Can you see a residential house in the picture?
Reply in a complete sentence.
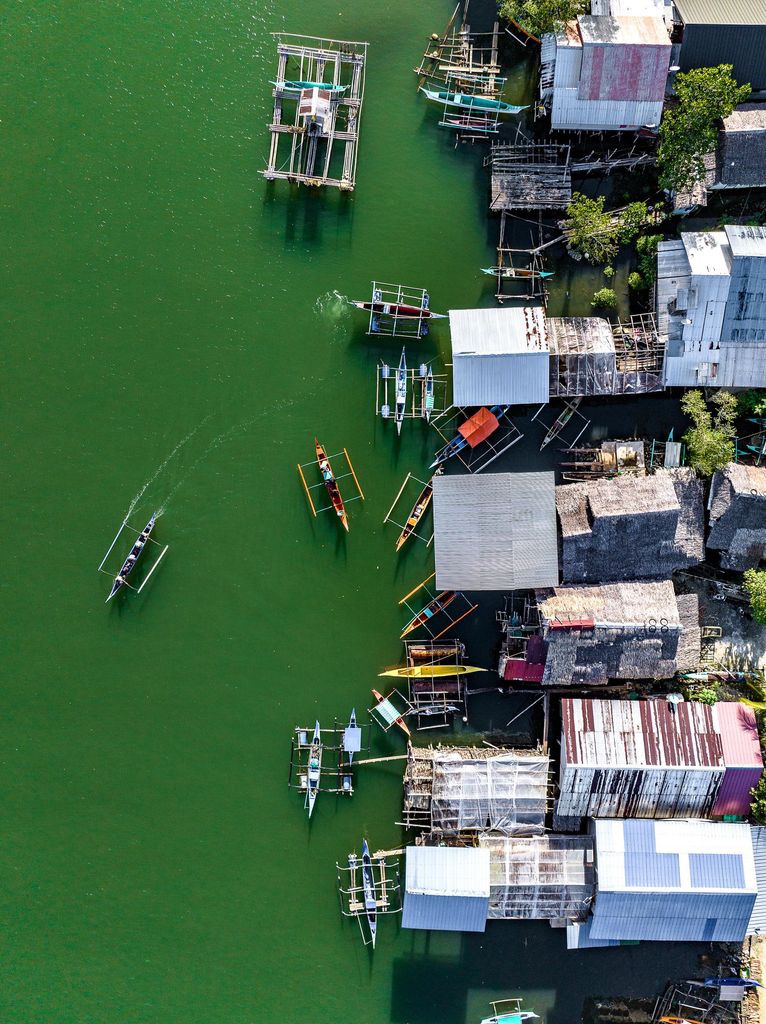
Yes, a residential house can be made out from above.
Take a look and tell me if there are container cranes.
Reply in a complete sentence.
No, there isn't any container crane down there.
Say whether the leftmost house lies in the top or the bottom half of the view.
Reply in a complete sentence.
The leftmost house is in the bottom half of the image.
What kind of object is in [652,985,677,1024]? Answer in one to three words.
boat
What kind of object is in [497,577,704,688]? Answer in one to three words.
house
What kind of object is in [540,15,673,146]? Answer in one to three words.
house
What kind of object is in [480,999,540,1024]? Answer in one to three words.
boat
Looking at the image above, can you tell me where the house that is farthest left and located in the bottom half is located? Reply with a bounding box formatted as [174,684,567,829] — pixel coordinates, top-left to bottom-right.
[402,817,490,932]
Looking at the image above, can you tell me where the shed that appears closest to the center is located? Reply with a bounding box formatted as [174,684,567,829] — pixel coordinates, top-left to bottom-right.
[432,471,558,590]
